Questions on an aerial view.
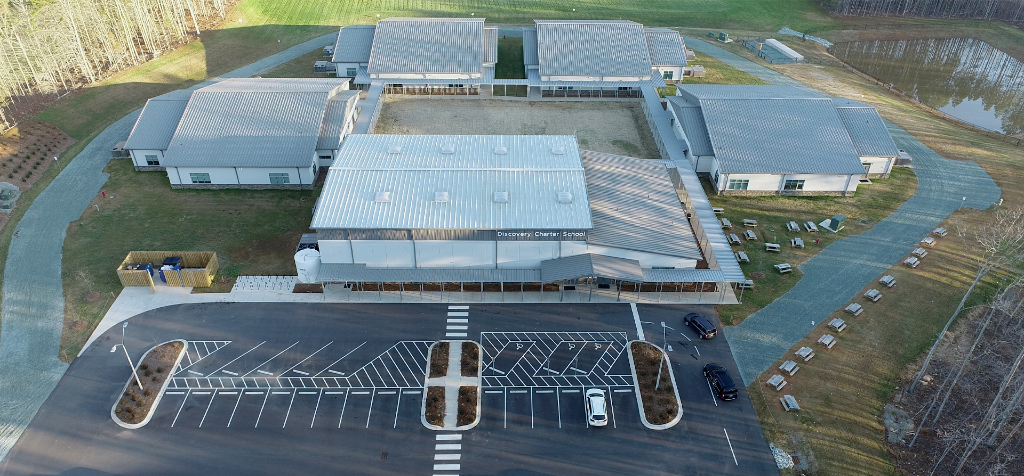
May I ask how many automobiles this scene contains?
3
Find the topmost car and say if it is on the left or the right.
right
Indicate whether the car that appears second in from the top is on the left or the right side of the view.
right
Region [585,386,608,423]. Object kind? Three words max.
car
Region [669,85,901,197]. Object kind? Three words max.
building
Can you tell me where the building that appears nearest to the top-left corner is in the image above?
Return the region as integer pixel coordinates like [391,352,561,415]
[122,80,362,190]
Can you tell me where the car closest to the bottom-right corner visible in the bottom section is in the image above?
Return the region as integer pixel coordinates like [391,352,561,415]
[704,363,741,403]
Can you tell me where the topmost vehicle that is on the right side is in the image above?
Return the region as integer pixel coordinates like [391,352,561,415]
[682,310,722,342]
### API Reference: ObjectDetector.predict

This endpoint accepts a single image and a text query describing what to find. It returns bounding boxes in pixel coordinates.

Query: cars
[704,363,741,403]
[585,386,608,423]
[682,310,722,342]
